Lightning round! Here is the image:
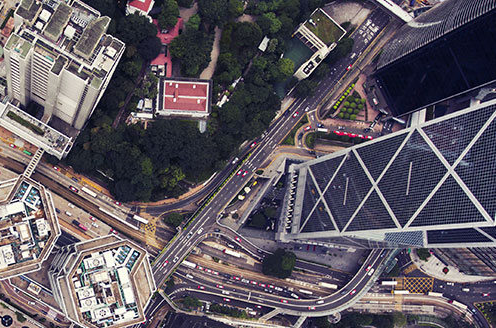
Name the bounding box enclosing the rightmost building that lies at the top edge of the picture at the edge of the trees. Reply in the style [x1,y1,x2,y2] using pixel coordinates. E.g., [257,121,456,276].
[376,0,496,116]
